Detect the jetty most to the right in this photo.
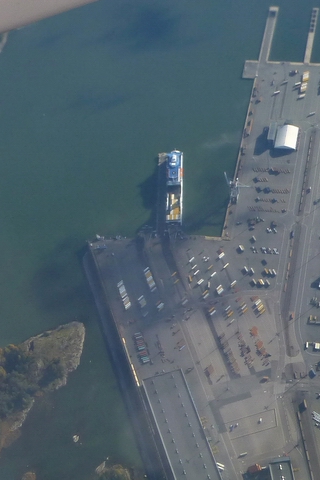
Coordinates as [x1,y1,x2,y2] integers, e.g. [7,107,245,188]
[304,8,319,64]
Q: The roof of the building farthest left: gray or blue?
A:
gray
